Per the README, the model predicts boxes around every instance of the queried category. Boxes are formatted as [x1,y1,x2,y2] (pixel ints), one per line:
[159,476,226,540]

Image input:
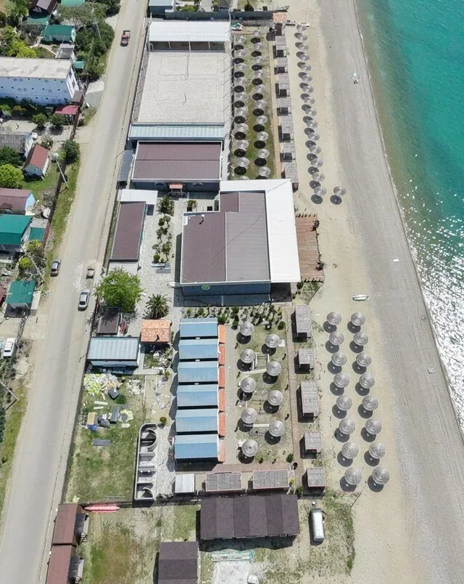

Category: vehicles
[311,509,326,542]
[1,338,14,358]
[121,31,128,46]
[84,267,95,279]
[79,288,90,310]
[49,259,62,275]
